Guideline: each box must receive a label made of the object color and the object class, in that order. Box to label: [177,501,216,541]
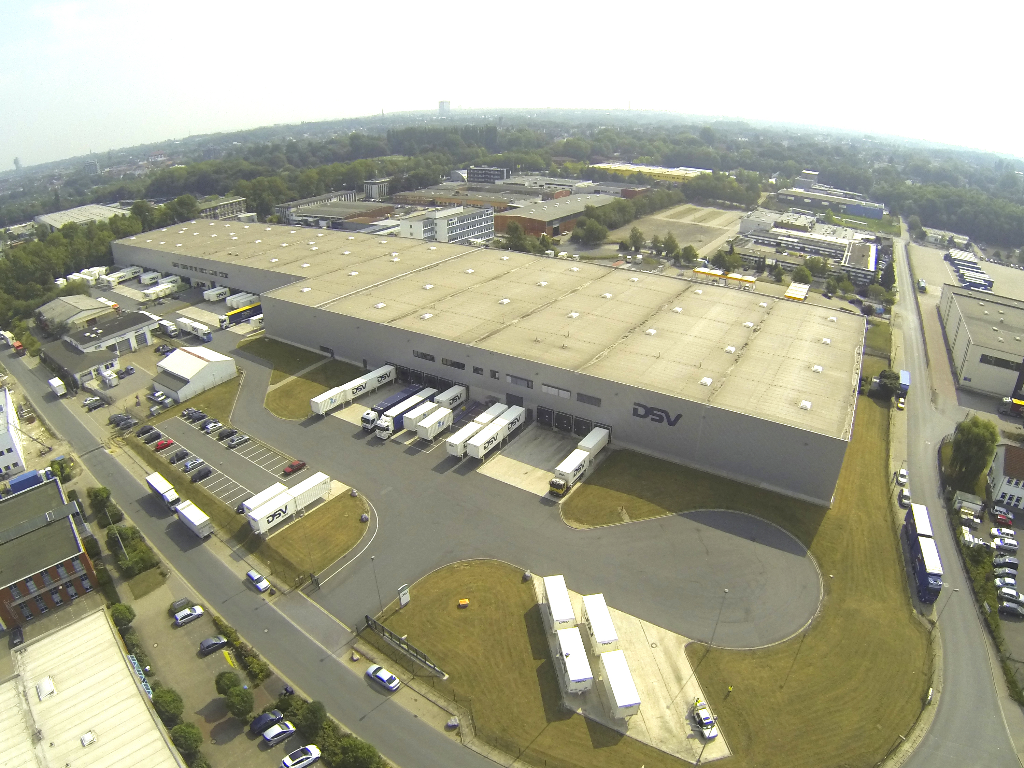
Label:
white trailer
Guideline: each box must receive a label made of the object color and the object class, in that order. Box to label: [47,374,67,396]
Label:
white vehicle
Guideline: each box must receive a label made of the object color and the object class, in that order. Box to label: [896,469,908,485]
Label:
white vehicle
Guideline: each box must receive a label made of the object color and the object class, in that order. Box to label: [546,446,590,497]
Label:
white truck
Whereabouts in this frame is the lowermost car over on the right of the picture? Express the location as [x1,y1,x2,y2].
[691,691,723,740]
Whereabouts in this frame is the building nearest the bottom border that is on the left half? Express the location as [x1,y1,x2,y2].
[0,606,189,768]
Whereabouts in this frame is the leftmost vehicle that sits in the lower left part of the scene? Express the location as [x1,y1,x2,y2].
[3,619,25,646]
